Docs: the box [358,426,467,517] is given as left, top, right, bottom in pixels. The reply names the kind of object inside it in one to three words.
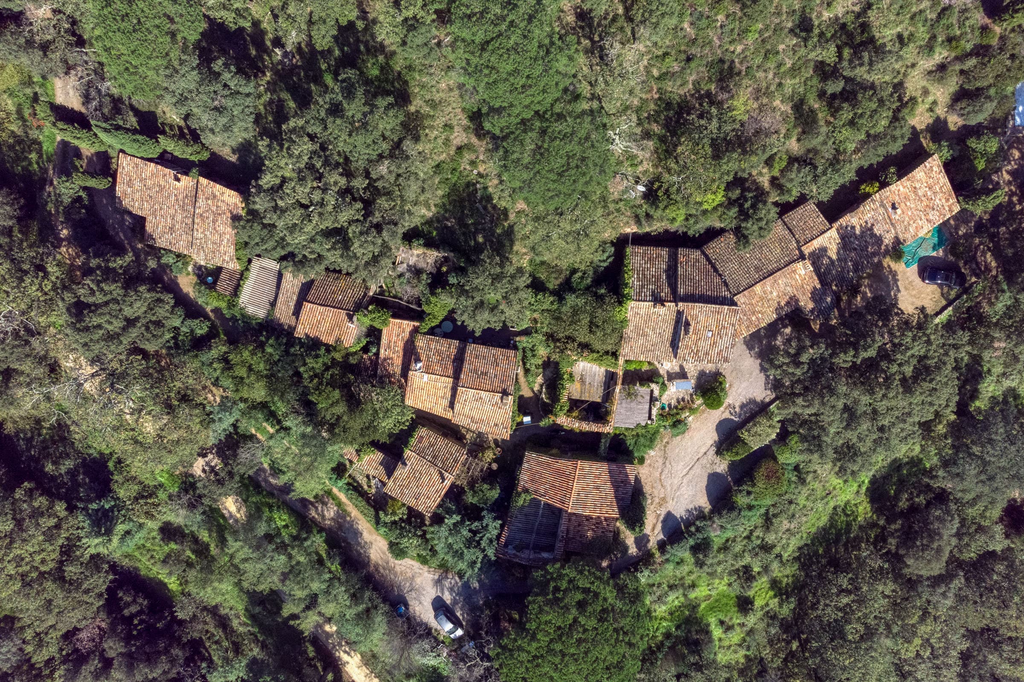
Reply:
house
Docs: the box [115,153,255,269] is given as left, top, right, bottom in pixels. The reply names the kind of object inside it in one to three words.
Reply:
house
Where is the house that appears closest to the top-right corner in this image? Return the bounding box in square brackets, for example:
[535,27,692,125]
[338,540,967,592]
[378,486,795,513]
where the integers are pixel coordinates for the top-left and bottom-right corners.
[793,154,961,285]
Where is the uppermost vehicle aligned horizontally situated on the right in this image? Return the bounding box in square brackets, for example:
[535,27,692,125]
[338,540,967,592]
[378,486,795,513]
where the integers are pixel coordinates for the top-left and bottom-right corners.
[921,267,968,290]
